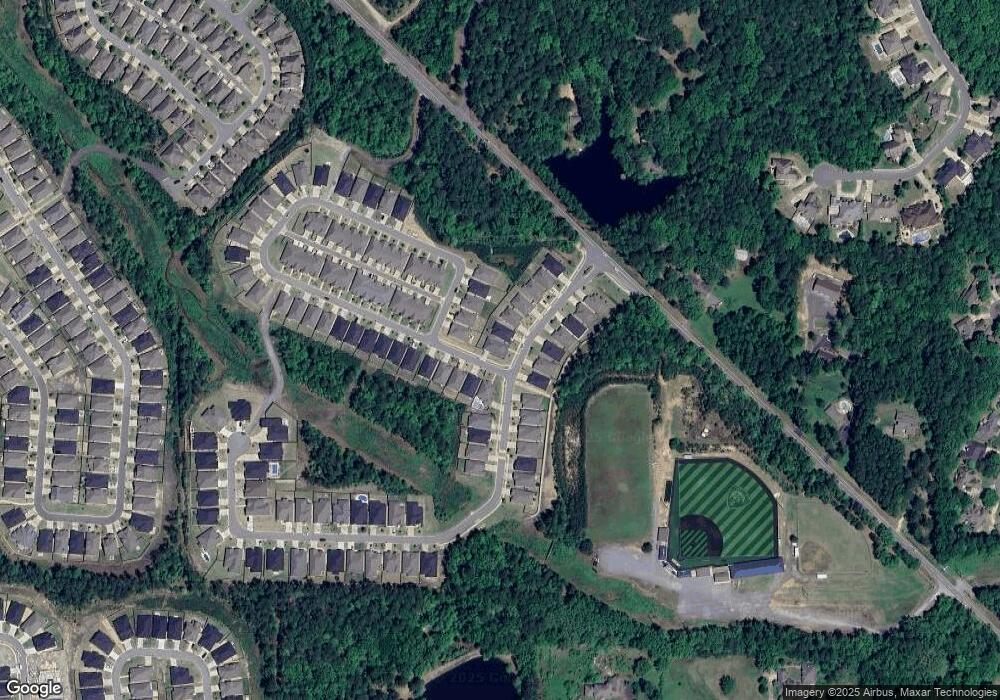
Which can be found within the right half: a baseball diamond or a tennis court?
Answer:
baseball diamond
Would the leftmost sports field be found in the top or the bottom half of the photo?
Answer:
bottom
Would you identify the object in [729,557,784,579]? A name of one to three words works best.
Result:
shed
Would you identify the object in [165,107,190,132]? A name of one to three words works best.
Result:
house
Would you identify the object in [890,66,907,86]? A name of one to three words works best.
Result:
swimming pool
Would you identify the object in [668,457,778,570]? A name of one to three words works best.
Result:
baseball field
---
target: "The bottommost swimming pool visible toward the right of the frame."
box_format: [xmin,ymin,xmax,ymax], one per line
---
[839,398,854,413]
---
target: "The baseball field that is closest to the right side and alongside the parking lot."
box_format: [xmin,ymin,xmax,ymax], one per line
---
[798,503,872,573]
